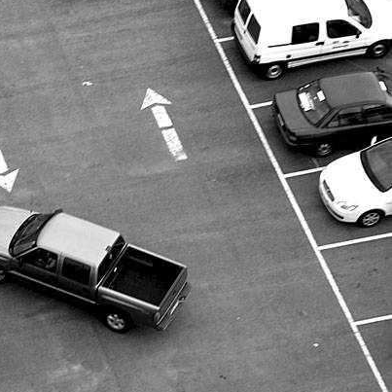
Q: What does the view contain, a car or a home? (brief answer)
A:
car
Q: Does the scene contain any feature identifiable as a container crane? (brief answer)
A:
No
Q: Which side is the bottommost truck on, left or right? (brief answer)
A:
left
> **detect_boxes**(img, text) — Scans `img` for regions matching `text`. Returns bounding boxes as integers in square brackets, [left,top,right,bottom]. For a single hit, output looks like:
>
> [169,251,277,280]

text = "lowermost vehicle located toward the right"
[320,138,392,226]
